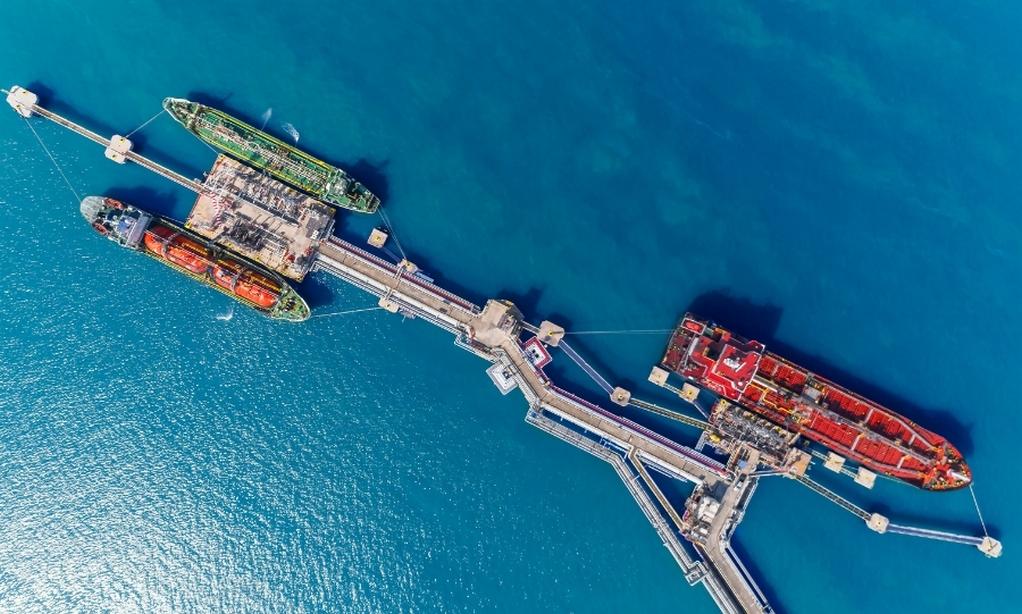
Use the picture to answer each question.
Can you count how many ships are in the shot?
3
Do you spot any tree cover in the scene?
No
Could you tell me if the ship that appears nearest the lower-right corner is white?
No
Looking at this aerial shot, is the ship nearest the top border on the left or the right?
left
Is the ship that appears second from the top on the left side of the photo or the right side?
left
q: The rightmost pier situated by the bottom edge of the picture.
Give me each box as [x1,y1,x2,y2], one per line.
[710,448,773,614]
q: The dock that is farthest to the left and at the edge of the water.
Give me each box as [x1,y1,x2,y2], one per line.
[187,154,335,282]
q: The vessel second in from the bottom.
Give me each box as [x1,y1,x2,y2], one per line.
[79,195,313,320]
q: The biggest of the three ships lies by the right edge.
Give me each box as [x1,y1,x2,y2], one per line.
[661,313,975,488]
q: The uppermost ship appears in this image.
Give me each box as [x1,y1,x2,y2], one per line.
[160,97,381,215]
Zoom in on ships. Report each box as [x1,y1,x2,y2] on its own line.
[79,195,313,320]
[160,97,381,215]
[661,313,975,488]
